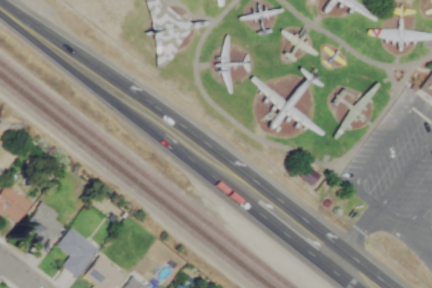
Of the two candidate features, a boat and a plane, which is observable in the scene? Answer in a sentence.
This aerial view contains a plane.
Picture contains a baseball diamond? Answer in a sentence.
No, the scene contains no baseball diamond.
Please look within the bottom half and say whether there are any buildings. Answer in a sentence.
Yes, you'll find a building within the bottom half.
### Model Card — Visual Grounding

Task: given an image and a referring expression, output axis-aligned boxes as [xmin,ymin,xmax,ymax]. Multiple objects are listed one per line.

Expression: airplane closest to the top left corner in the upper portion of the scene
[146,0,210,67]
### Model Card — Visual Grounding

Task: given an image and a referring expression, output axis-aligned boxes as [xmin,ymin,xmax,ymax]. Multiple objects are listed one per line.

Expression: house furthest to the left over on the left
[0,187,32,225]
